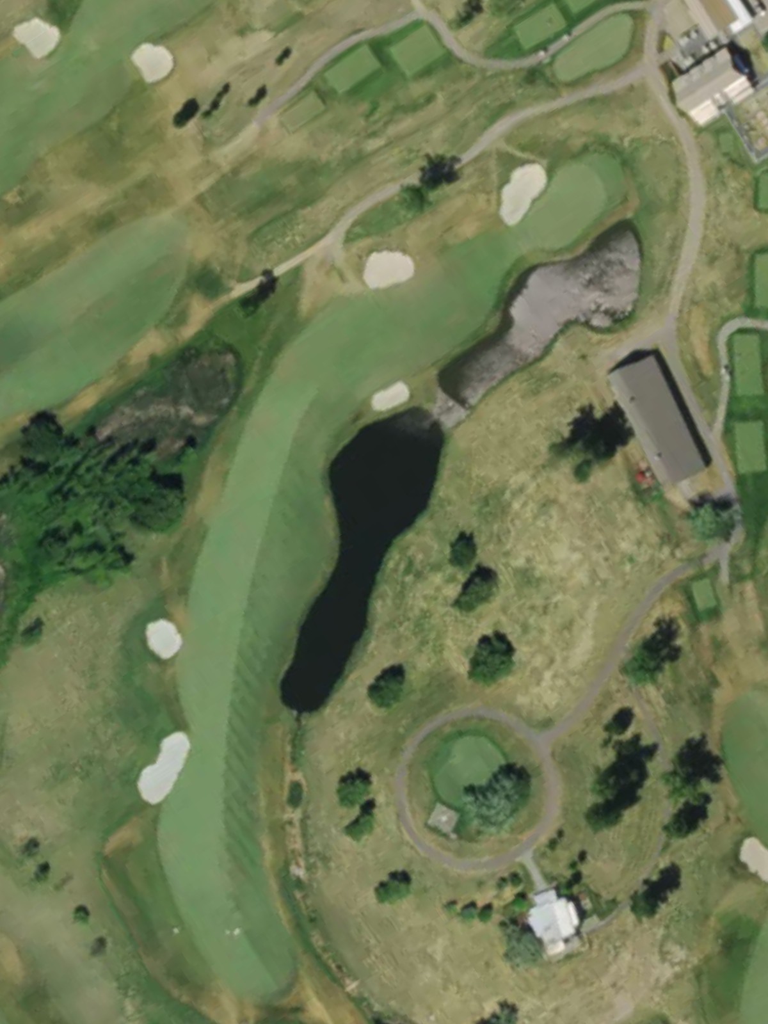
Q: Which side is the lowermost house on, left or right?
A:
right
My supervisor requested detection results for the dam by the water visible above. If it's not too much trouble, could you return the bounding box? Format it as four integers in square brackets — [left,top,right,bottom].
[433,385,471,429]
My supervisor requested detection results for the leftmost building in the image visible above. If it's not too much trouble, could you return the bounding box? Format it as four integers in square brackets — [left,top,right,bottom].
[427,803,459,832]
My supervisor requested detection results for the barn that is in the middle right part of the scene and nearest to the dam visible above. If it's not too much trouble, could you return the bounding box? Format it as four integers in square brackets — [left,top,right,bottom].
[609,355,706,484]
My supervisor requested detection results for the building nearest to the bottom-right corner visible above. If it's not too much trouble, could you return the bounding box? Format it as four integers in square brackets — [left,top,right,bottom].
[528,890,579,955]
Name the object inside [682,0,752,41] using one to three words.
building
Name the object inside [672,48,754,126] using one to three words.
building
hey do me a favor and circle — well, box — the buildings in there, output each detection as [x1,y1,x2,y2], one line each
[682,0,752,41]
[609,355,706,484]
[427,803,459,832]
[528,890,579,955]
[672,48,754,126]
